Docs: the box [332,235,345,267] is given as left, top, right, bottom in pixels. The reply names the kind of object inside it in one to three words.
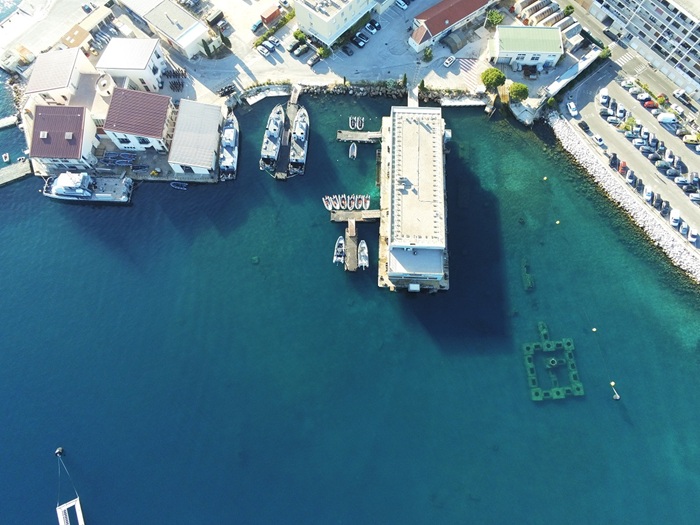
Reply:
boat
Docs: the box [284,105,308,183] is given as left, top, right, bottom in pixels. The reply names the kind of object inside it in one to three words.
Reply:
boat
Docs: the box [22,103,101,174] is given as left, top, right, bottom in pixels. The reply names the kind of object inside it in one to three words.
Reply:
house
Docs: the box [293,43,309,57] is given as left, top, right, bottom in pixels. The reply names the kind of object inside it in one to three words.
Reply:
vehicle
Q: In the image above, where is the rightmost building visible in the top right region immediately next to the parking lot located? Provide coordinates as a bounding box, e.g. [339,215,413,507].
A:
[579,0,700,116]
